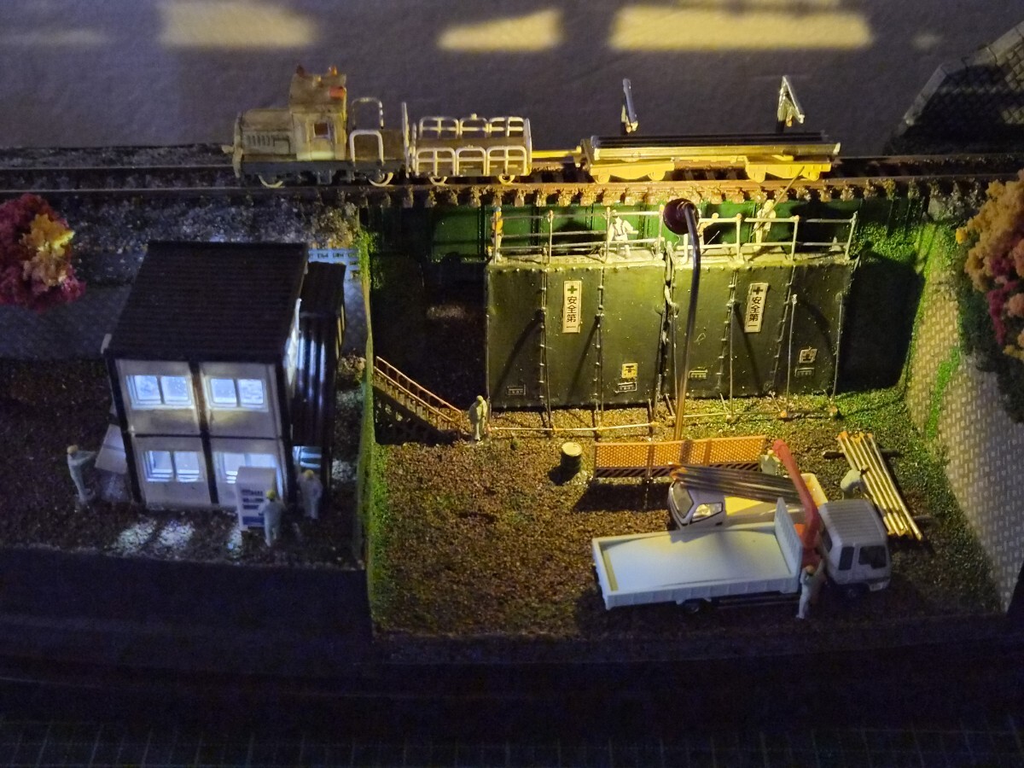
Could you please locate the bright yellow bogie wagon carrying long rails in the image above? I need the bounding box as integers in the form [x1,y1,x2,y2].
[528,67,829,182]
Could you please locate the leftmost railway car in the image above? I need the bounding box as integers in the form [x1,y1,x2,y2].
[225,66,403,188]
